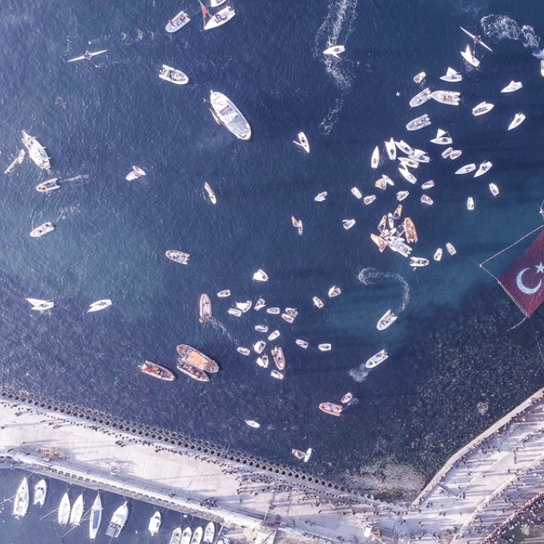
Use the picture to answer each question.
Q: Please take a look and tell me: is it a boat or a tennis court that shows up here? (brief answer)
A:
boat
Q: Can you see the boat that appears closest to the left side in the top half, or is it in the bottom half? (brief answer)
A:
bottom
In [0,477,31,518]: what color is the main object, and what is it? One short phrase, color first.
white boat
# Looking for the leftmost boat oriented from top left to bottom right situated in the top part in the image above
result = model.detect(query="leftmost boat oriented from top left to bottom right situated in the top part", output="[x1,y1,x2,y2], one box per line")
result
[23,133,55,172]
